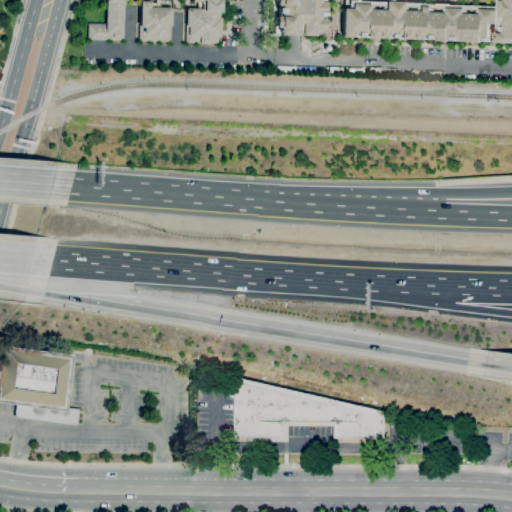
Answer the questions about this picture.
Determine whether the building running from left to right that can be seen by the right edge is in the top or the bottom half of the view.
top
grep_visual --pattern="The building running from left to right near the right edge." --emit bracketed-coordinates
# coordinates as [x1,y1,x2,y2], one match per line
[346,2,499,42]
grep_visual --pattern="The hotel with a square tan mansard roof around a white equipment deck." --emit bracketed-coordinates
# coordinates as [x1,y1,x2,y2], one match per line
[0,348,73,411]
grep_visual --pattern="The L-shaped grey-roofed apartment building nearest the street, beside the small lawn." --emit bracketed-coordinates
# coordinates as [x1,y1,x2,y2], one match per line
[88,0,126,42]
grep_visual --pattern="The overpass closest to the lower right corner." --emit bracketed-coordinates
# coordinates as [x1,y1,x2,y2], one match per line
[468,348,512,385]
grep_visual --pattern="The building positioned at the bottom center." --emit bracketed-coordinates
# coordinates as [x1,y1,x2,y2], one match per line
[234,378,386,442]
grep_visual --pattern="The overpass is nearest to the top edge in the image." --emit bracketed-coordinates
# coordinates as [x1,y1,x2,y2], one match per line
[0,158,76,206]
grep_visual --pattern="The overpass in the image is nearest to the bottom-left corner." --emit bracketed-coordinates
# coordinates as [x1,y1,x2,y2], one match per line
[0,234,58,304]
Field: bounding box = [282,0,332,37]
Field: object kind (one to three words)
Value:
building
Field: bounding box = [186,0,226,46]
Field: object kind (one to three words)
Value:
building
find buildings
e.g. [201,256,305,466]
[88,0,126,42]
[186,0,226,46]
[346,2,499,42]
[282,0,332,37]
[0,348,73,411]
[140,2,174,43]
[234,378,386,442]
